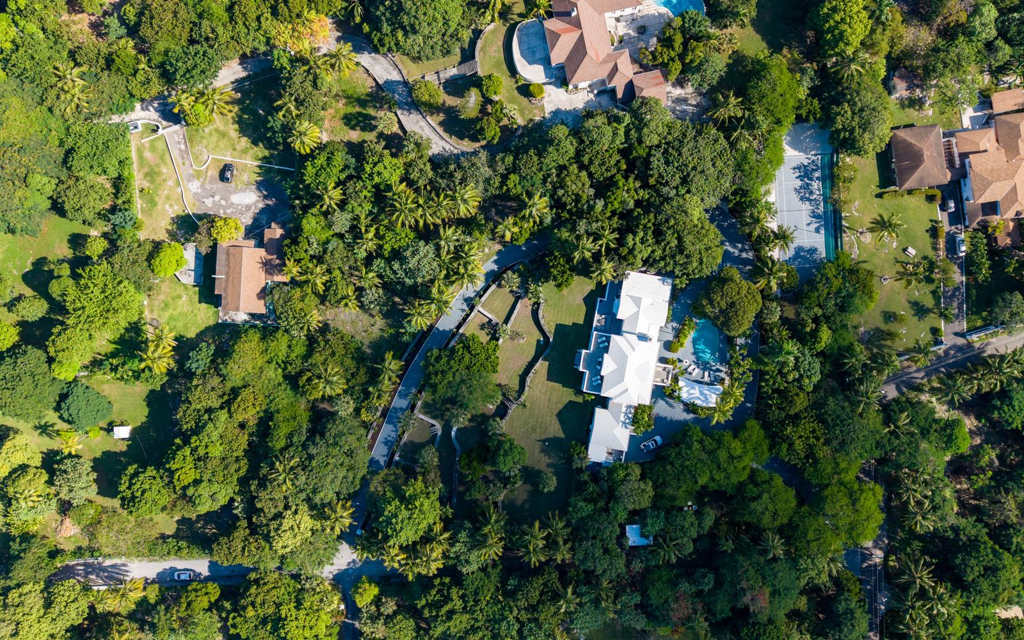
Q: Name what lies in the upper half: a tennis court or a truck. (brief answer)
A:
tennis court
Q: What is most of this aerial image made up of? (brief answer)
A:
trees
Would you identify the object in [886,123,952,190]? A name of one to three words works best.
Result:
house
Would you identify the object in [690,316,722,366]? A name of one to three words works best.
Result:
swimming pool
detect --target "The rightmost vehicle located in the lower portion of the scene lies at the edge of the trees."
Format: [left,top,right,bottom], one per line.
[640,435,664,453]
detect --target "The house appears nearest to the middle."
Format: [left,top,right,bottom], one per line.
[578,271,673,469]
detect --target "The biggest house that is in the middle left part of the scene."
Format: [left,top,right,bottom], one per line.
[212,222,291,314]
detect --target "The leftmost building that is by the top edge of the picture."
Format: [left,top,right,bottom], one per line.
[543,0,667,115]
